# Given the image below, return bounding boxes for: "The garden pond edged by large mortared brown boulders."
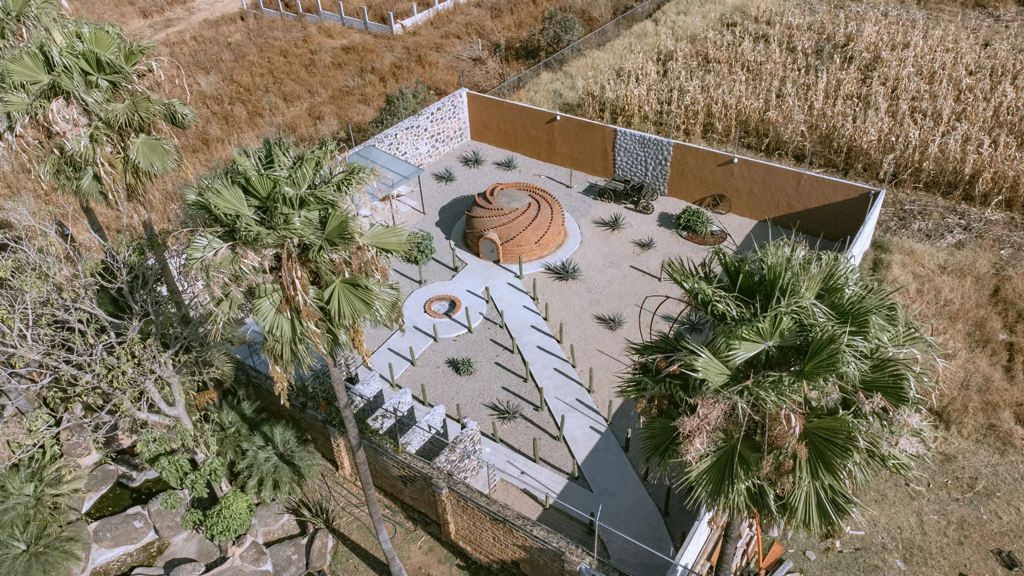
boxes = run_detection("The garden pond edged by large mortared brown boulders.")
[0,375,331,576]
